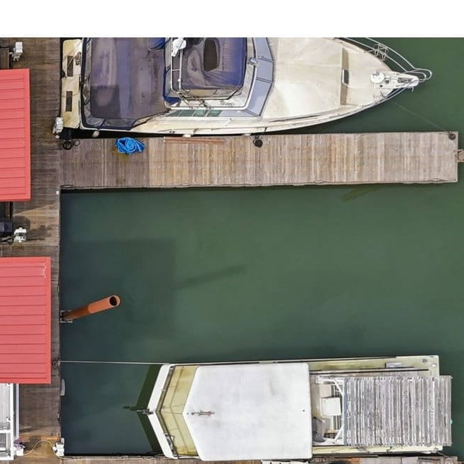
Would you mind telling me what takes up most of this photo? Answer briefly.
water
